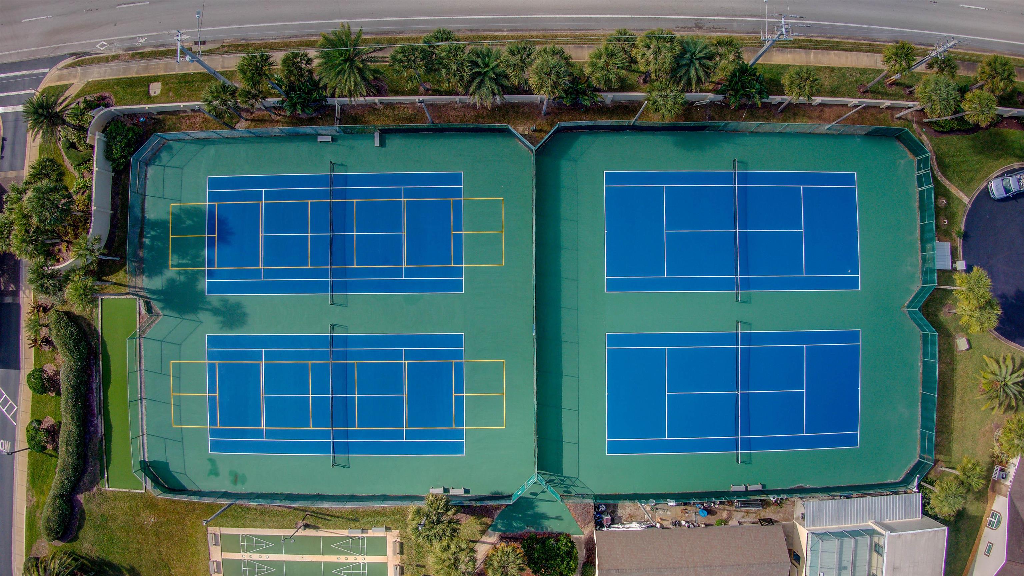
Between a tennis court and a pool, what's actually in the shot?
tennis court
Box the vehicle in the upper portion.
[988,169,1024,198]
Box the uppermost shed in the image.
[926,242,951,269]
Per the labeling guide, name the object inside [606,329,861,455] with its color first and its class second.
blue tennis court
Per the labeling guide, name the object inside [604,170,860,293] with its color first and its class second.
blue tennis court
